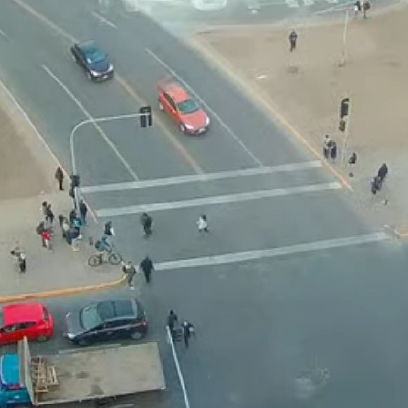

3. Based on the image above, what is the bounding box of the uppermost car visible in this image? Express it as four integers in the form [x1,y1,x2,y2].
[72,41,111,77]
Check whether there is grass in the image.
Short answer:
No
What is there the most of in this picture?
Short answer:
paved ground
